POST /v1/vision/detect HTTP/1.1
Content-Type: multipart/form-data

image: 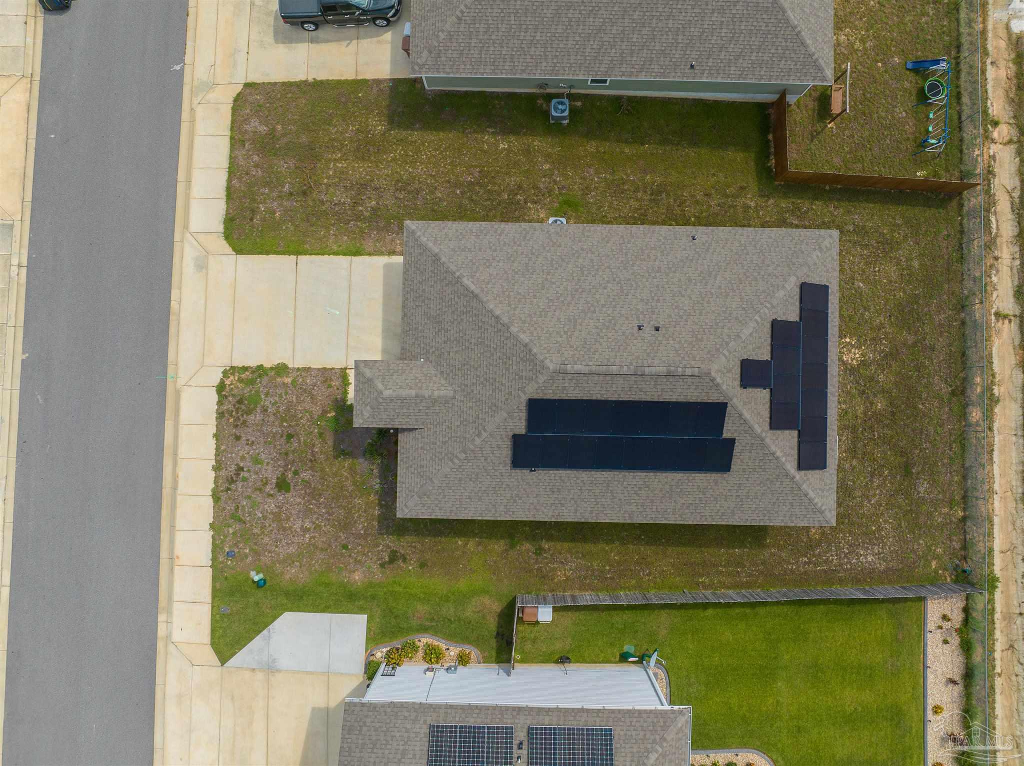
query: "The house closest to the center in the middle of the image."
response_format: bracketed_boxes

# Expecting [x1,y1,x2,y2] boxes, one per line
[353,221,839,526]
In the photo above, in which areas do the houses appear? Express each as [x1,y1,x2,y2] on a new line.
[411,0,834,104]
[353,221,839,526]
[339,662,694,766]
